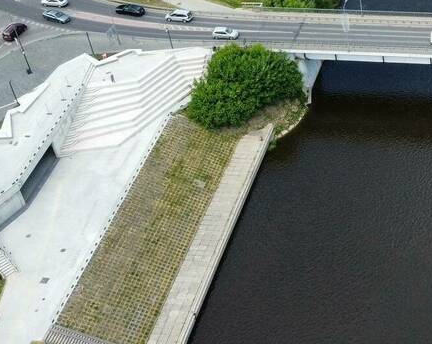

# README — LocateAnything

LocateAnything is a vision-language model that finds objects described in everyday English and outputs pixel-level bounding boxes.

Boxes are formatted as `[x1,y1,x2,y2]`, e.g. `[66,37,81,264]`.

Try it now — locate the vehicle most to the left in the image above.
[0,25,27,41]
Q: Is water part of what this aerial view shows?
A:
Yes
